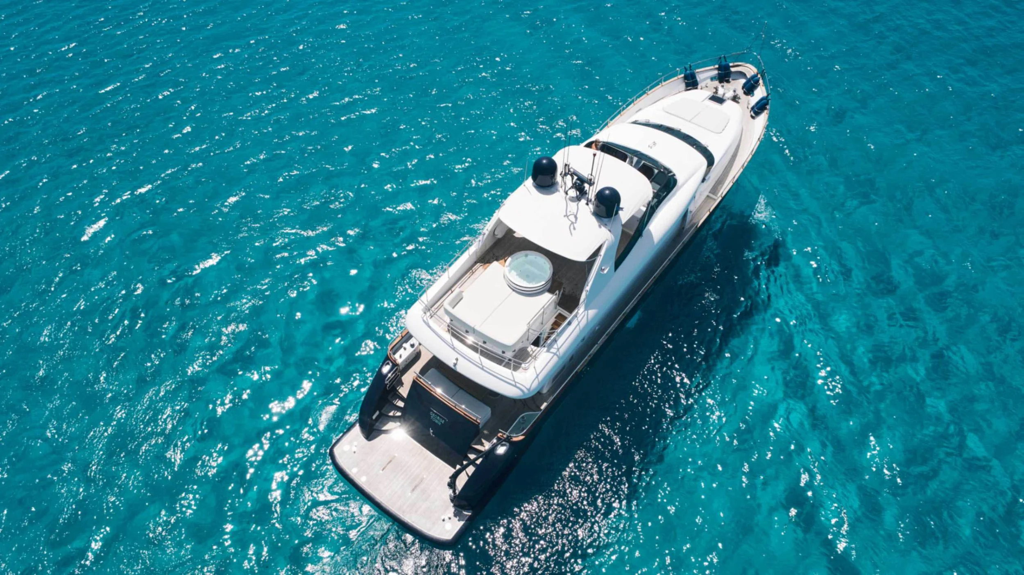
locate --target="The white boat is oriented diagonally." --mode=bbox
[335,20,774,544]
